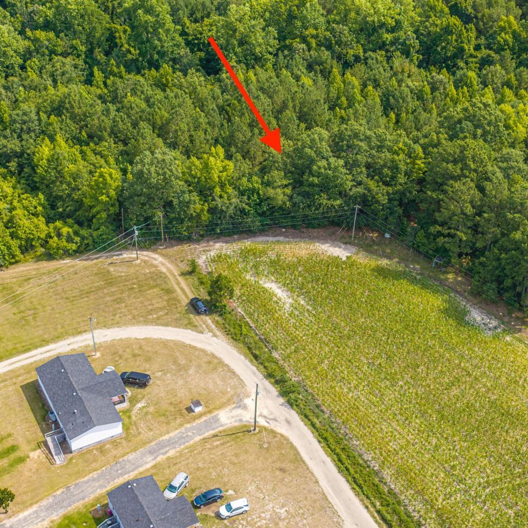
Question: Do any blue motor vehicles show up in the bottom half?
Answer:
Yes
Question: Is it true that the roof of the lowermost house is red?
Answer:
No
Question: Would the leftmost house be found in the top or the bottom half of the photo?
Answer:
bottom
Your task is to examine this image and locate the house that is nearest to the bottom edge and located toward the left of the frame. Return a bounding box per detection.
[107,474,201,528]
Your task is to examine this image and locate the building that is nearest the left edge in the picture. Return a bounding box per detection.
[36,354,124,452]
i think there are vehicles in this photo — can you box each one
[165,468,190,499]
[216,496,252,521]
[95,365,118,375]
[120,372,153,390]
[191,487,226,511]
[189,297,208,315]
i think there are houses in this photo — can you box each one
[36,354,124,452]
[107,474,201,528]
